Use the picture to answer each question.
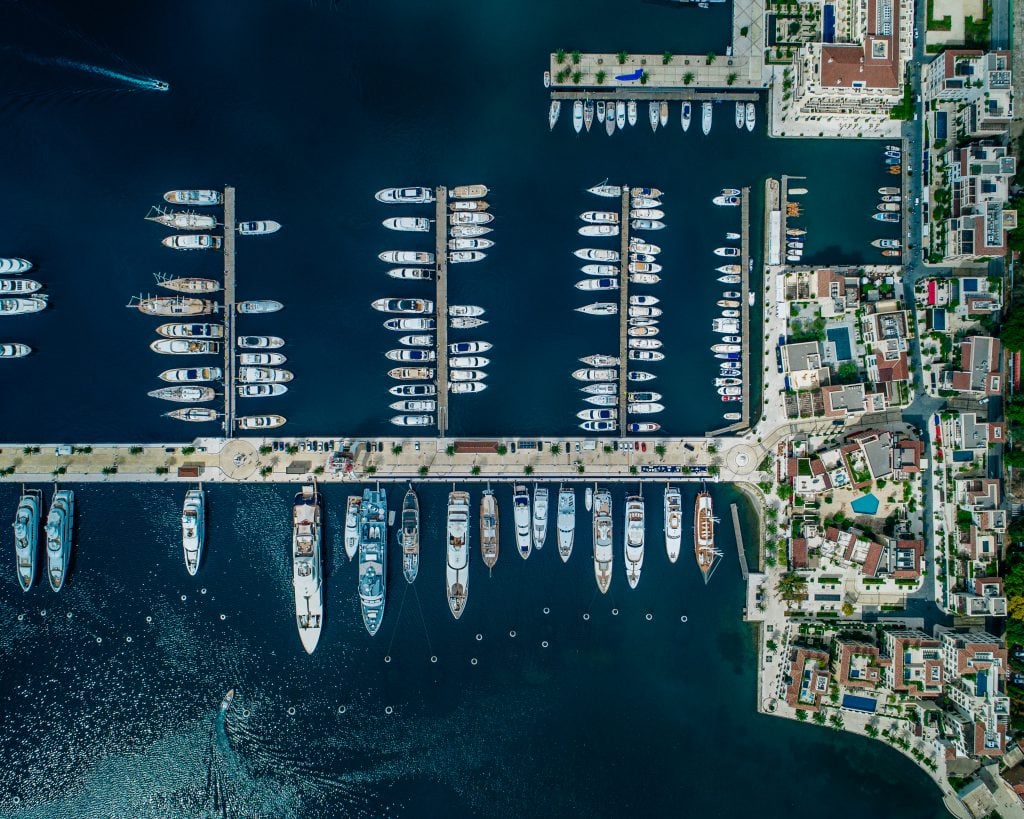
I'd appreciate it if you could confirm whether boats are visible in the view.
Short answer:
Yes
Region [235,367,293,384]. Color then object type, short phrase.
white boat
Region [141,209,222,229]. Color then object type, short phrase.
white ship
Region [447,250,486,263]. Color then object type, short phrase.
white boat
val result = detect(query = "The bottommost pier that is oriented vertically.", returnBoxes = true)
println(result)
[730,503,748,578]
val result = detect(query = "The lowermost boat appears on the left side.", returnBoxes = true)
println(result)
[219,690,233,712]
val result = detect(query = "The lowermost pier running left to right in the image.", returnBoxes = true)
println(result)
[0,437,736,483]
